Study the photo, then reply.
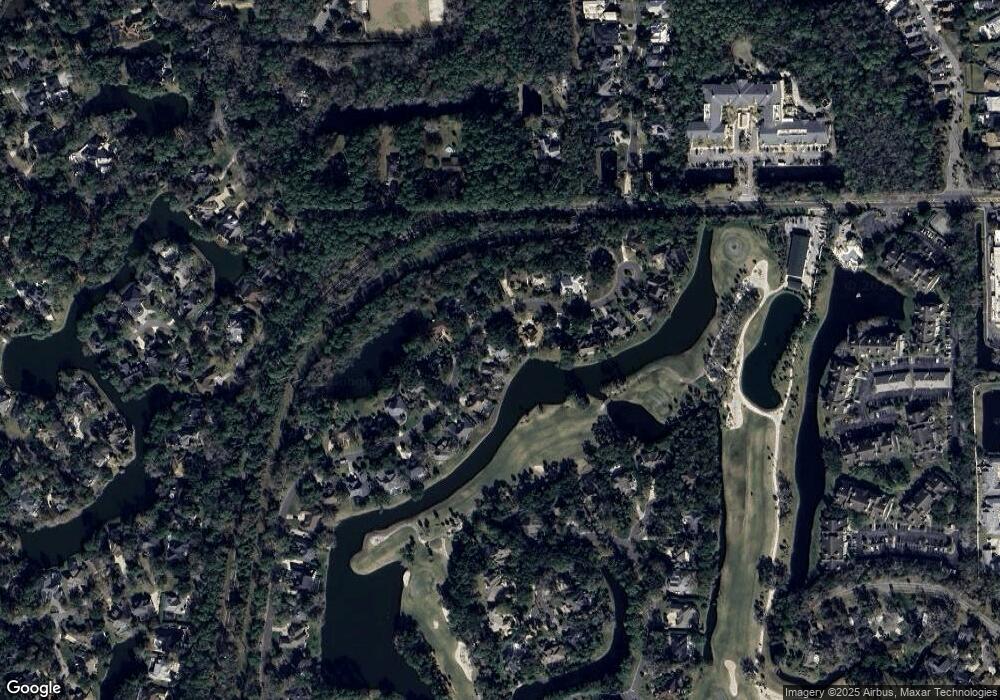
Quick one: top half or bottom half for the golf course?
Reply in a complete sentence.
Seen from above, the golf course lies in the bottom half of the view.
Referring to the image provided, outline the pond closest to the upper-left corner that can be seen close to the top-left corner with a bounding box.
[87,86,188,133]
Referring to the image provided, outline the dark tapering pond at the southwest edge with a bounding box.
[100,636,148,700]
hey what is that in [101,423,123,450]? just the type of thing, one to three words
house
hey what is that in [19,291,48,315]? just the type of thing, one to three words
house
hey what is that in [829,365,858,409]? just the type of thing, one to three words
building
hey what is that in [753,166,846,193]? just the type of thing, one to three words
pond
